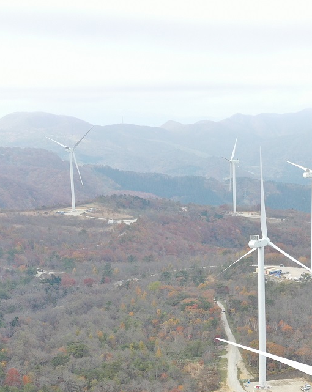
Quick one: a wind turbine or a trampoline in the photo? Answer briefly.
wind turbine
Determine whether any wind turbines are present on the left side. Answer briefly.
Yes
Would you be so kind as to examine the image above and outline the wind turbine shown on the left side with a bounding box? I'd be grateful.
[45,125,94,210]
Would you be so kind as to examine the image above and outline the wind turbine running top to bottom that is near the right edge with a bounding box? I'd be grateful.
[213,146,312,388]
